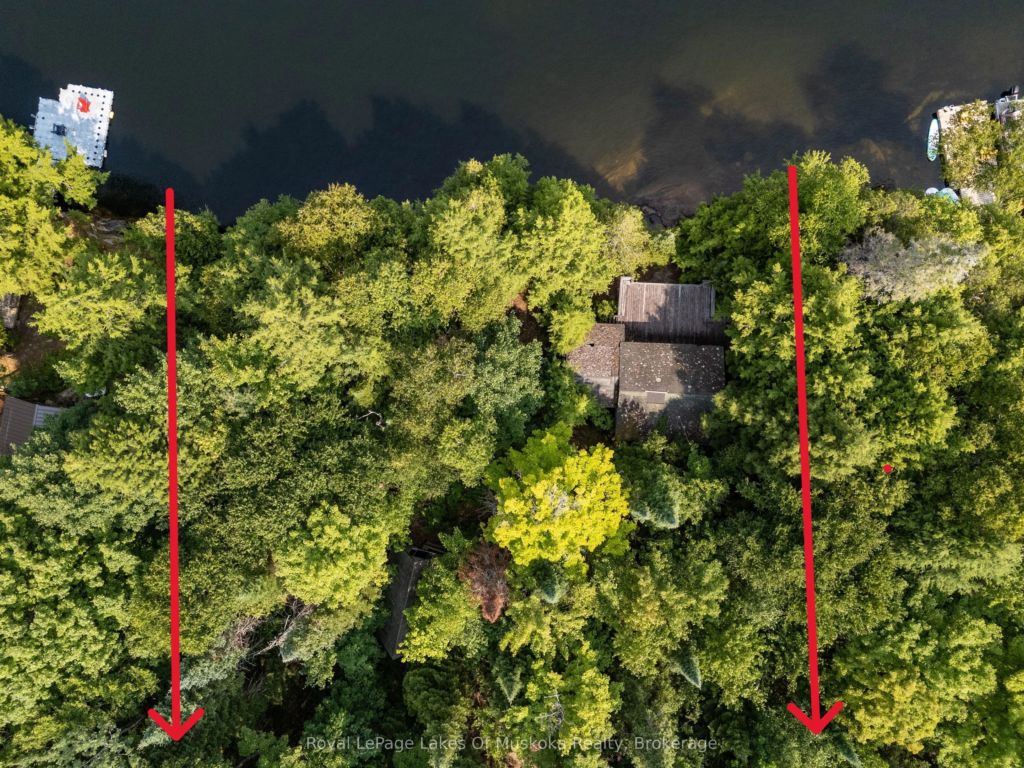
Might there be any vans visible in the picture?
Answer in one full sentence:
No, there isn't any van down there.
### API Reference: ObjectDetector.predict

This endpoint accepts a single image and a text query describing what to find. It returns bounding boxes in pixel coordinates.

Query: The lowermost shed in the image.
[375,526,443,660]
